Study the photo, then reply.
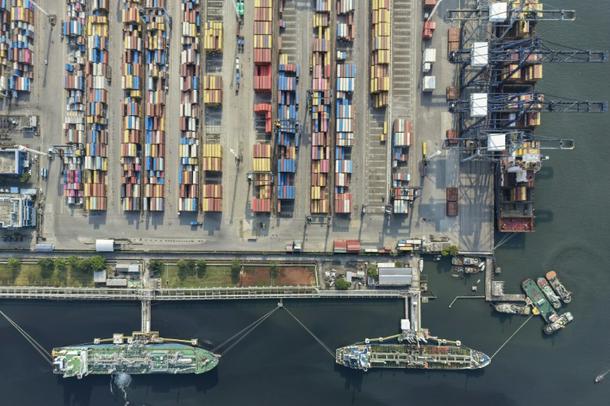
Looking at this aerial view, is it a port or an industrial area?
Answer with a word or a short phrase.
port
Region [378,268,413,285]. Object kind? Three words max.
building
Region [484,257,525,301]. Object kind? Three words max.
pier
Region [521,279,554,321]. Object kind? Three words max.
ship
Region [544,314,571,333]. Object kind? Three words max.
boat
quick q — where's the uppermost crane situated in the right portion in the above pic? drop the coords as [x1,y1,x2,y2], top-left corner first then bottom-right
[446,0,577,47]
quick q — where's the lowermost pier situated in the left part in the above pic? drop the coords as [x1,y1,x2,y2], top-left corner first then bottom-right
[94,298,198,357]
